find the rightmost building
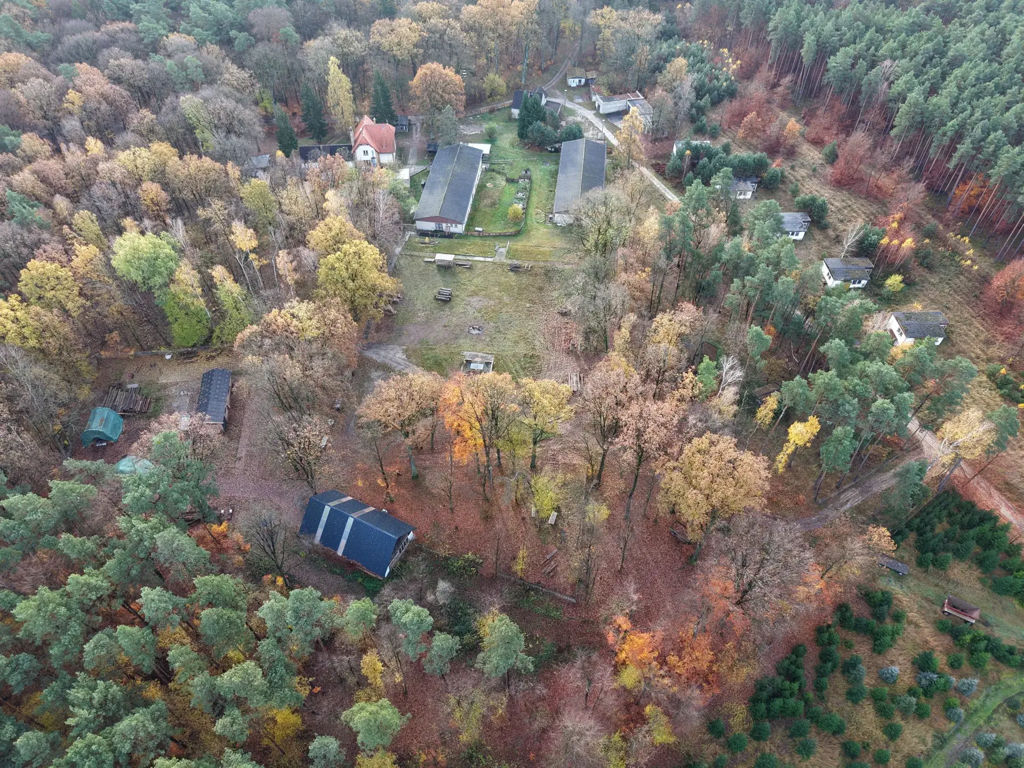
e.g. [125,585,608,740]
[892,311,947,345]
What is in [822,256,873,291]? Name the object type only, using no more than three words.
building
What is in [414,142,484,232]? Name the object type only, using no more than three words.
barn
